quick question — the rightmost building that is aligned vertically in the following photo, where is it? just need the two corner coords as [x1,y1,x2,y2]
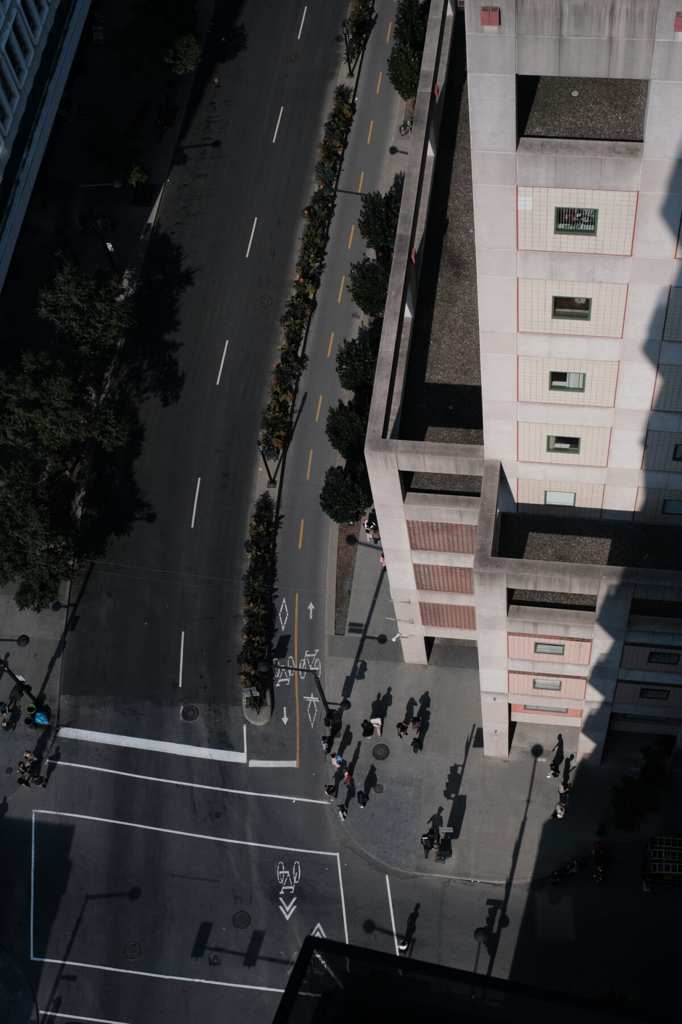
[365,0,682,775]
